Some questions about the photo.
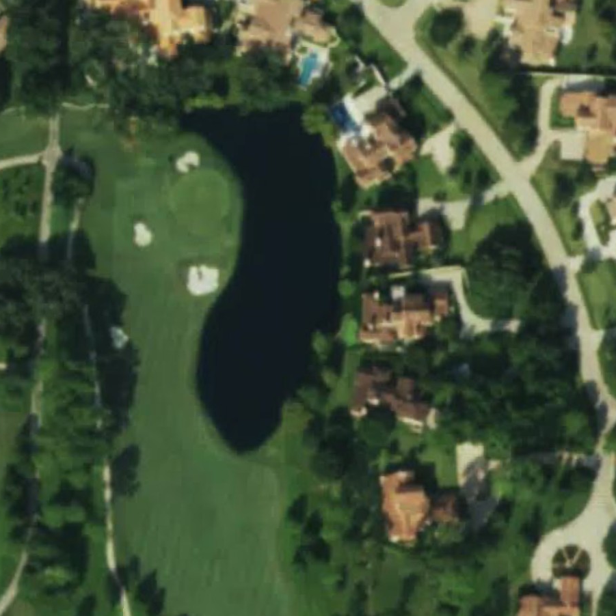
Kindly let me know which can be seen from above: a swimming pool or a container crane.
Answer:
swimming pool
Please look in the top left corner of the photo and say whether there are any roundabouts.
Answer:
No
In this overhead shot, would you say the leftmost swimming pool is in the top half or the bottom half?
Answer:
top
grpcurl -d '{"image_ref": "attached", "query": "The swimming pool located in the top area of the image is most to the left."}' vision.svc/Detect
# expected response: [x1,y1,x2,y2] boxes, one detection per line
[298,44,330,89]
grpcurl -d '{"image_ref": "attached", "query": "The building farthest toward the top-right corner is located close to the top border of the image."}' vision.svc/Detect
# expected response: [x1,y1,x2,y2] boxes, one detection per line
[506,0,579,64]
